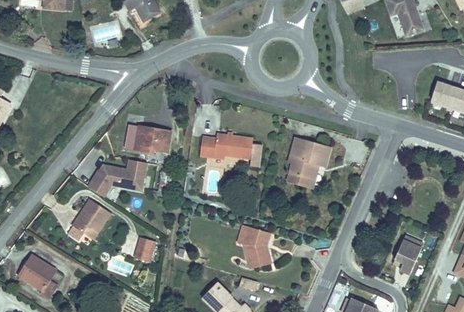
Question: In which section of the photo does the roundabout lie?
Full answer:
The roundabout is located in the top region of the scene.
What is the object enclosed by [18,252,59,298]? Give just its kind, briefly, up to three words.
house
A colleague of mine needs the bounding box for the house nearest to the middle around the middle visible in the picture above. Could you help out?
[201,131,264,168]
